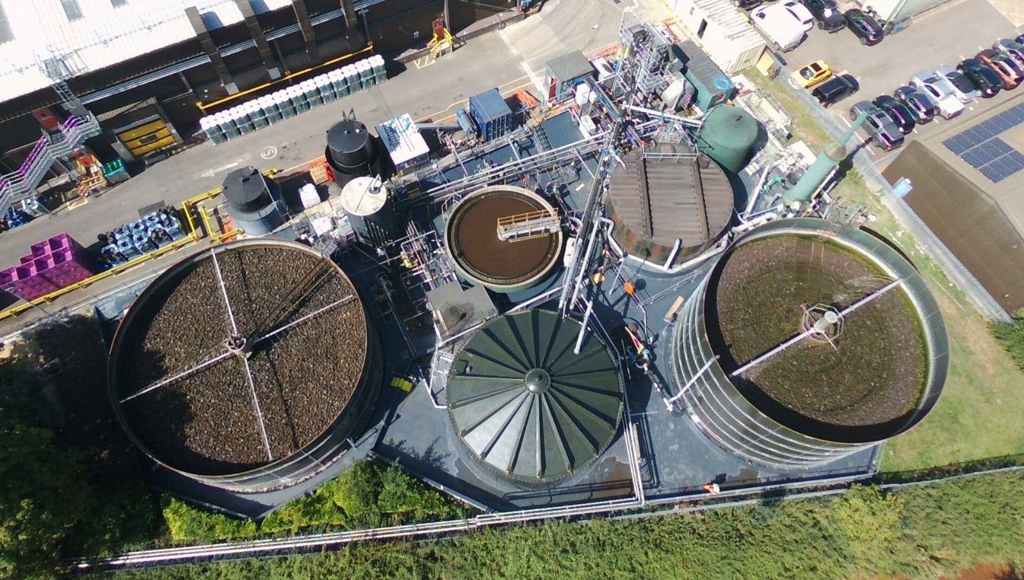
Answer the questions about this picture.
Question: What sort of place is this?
industrial area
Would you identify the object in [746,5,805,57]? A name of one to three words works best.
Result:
van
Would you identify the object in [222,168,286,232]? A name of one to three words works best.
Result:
storage tank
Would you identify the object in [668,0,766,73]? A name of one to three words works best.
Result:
building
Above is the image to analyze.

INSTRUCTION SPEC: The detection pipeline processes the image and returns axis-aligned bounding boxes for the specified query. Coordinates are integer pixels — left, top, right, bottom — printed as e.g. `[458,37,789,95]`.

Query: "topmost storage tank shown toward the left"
[323,113,386,187]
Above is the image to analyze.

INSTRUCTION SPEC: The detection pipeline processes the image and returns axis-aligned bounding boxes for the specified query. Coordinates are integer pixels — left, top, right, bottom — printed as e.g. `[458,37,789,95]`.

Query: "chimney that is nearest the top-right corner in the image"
[783,104,869,210]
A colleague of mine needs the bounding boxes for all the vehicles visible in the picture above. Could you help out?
[781,3,822,44]
[870,95,919,138]
[746,5,805,57]
[857,106,906,153]
[789,58,835,92]
[808,73,860,109]
[844,10,888,50]
[731,0,765,16]
[935,69,983,110]
[980,50,1024,90]
[893,87,939,127]
[803,0,852,37]
[957,58,1007,100]
[910,72,966,121]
